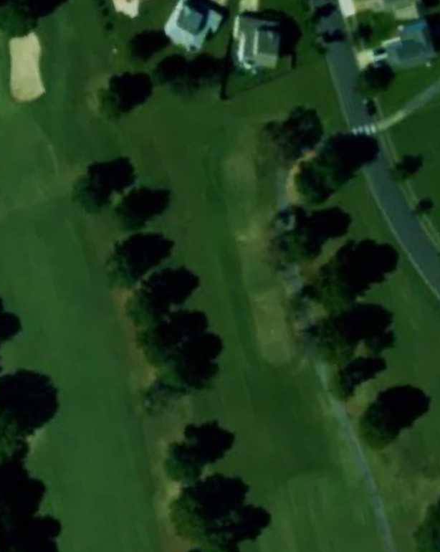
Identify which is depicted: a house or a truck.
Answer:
house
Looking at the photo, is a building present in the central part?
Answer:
No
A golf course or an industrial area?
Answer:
golf course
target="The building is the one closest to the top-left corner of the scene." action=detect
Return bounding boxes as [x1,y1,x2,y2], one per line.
[165,1,224,52]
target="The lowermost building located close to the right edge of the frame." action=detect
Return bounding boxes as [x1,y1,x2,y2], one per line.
[376,17,439,65]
